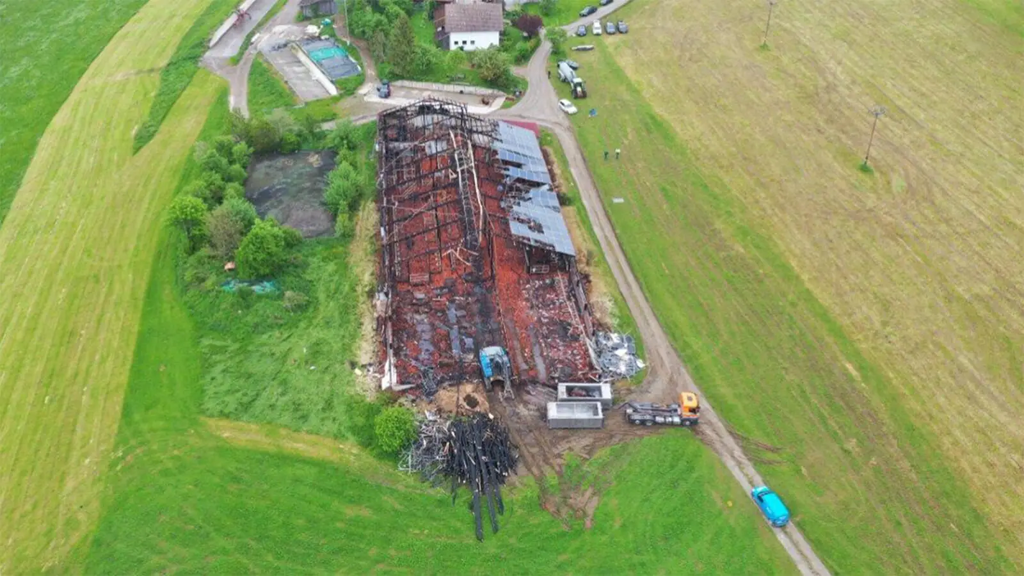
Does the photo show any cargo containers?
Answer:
Yes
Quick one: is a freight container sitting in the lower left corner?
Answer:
No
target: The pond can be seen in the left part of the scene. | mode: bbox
[245,149,336,239]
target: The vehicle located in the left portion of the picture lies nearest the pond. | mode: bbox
[377,79,390,100]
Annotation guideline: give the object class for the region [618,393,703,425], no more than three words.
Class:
truck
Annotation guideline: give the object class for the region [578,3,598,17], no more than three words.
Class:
car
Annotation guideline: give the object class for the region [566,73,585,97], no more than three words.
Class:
work vehicle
